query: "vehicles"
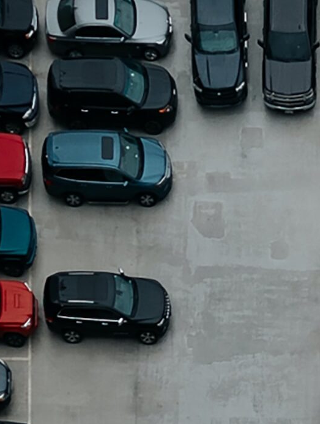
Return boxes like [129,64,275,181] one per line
[258,0,320,111]
[46,54,178,132]
[186,0,248,107]
[0,133,32,203]
[0,0,39,58]
[42,269,171,344]
[0,207,38,276]
[0,280,38,347]
[40,128,173,206]
[45,0,173,60]
[0,61,39,134]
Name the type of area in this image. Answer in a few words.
parking lot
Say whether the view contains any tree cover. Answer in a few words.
No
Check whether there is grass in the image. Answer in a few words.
No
